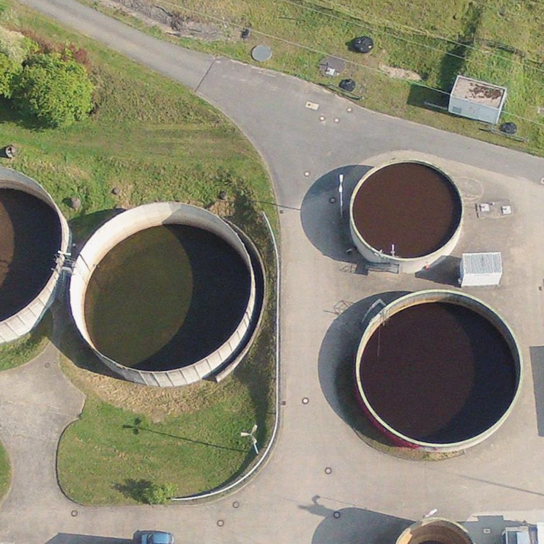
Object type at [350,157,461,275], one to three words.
storage tank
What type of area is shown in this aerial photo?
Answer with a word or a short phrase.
industrial area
